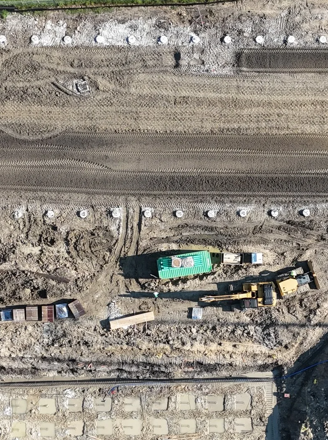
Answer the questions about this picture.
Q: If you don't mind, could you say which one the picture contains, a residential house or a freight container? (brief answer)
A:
freight container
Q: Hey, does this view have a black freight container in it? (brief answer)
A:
No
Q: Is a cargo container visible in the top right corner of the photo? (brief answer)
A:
No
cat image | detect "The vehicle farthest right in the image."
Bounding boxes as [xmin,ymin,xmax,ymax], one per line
[275,260,322,299]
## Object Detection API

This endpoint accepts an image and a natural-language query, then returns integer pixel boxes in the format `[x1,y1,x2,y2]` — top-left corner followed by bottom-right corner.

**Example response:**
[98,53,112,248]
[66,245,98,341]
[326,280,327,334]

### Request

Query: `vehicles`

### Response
[275,260,322,299]
[201,281,276,308]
